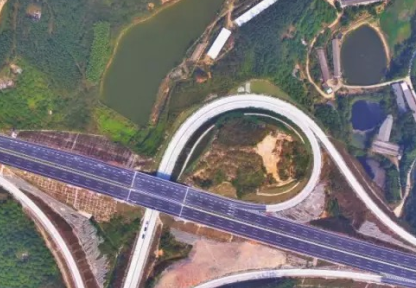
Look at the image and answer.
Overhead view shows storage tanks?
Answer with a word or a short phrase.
No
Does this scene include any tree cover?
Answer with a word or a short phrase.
Yes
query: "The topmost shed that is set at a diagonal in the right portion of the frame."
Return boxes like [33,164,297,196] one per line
[234,0,278,26]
